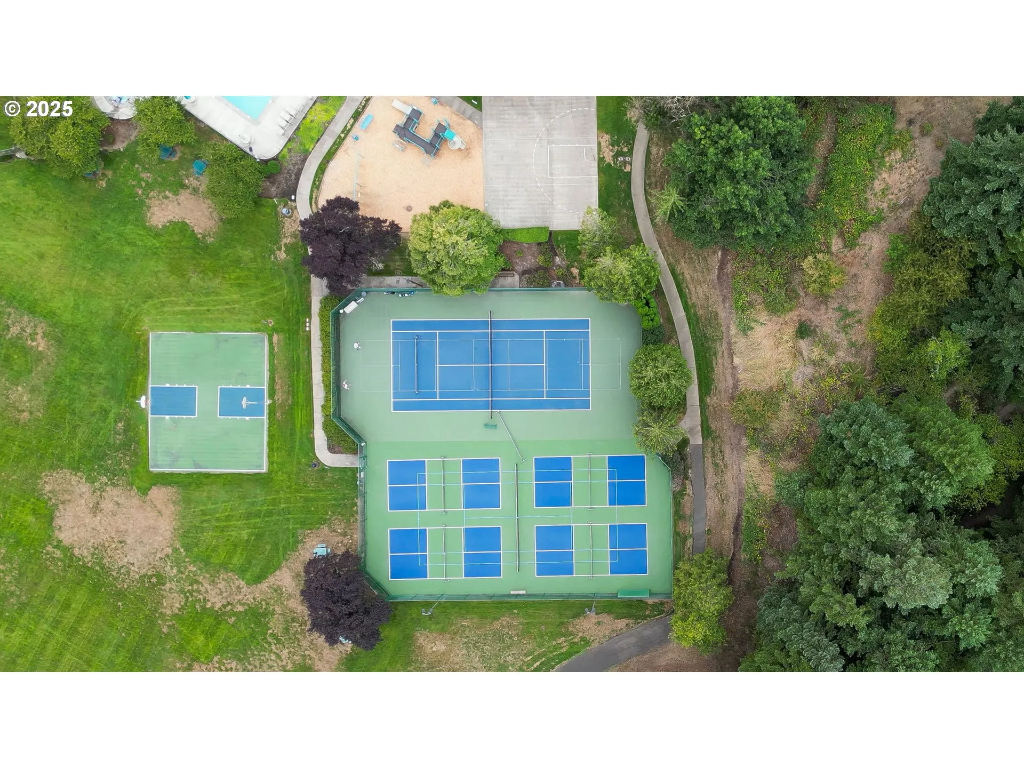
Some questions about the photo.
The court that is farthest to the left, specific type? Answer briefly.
basketball court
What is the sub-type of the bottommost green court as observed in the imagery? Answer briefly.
tennis court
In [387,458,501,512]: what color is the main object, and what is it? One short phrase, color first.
blue sports court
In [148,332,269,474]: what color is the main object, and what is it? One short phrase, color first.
green basketball court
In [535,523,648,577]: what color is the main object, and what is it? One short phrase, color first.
blue sports court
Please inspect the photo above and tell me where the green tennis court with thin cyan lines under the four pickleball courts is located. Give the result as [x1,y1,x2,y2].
[366,442,671,594]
